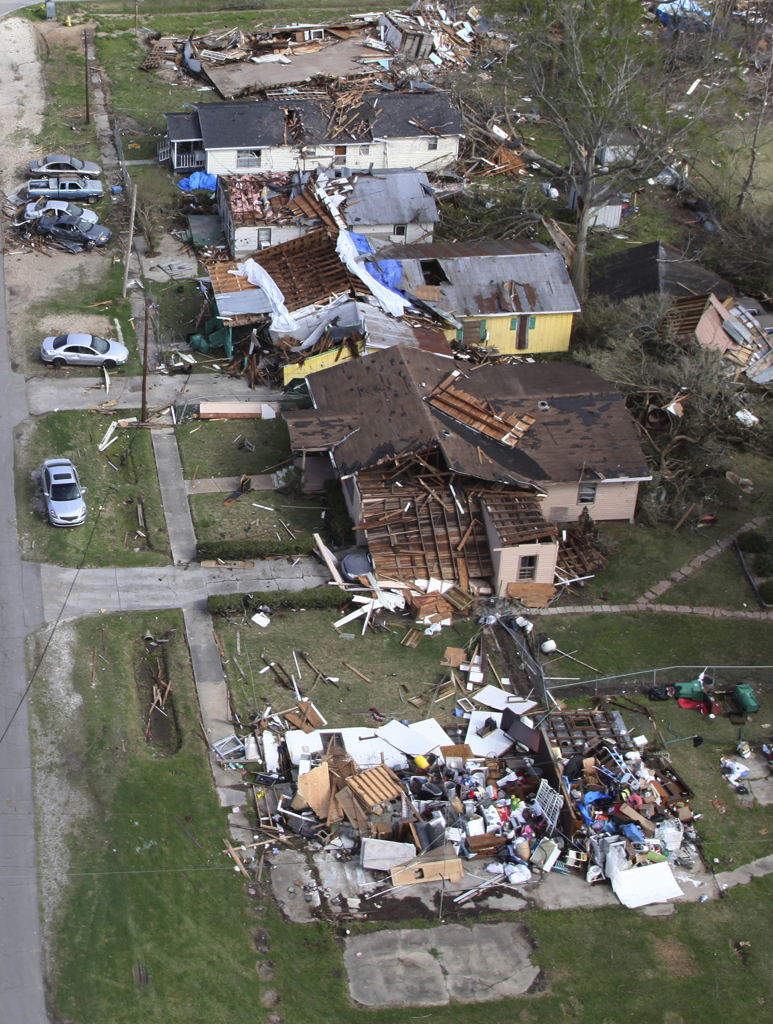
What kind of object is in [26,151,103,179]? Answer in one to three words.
car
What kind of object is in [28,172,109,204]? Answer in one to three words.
truck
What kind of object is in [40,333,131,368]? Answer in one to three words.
car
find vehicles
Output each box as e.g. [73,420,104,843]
[28,172,109,204]
[22,200,101,227]
[41,463,88,526]
[36,213,114,247]
[40,333,131,368]
[26,151,103,179]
